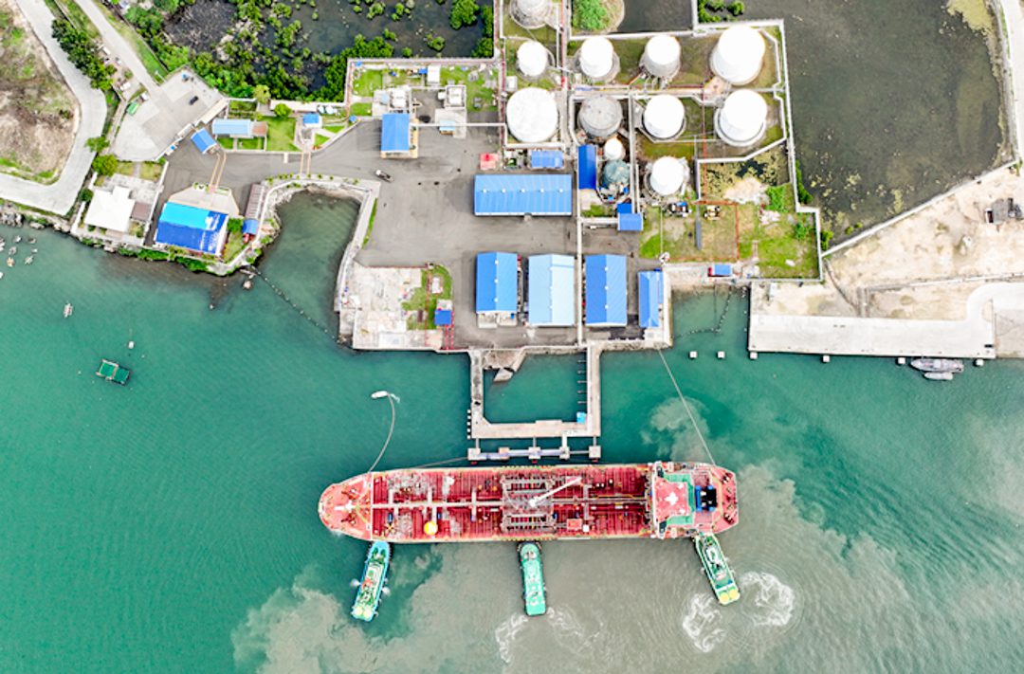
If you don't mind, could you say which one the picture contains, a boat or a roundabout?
boat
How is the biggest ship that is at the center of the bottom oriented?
from side to side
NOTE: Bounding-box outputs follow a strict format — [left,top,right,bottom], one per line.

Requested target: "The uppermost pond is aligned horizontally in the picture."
[609,0,691,34]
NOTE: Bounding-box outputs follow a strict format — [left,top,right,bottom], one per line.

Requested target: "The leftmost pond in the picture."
[164,0,497,100]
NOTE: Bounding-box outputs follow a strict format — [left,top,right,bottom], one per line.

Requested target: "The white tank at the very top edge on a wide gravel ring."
[508,0,558,34]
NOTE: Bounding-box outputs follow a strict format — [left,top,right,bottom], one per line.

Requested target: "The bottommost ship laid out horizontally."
[318,461,738,543]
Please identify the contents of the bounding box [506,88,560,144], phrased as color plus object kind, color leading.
white storage tank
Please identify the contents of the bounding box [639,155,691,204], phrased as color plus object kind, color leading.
white storage tank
